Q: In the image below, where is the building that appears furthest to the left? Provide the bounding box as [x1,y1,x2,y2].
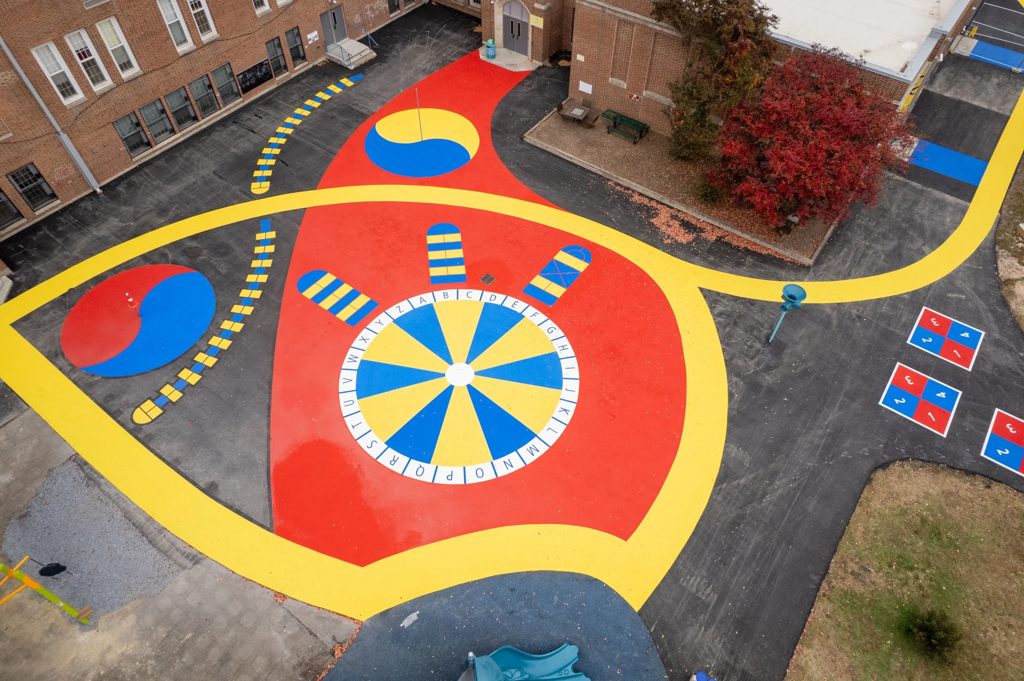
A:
[0,0,482,277]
